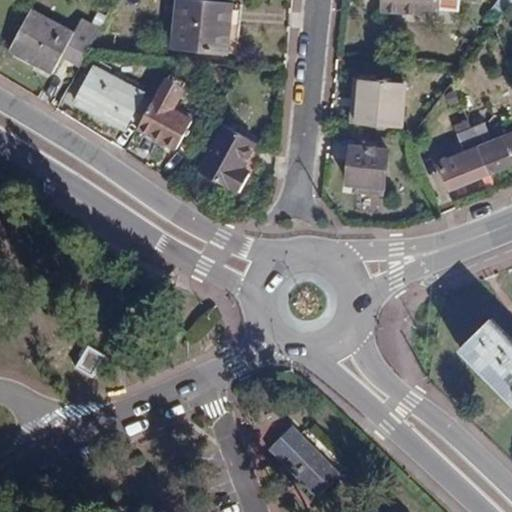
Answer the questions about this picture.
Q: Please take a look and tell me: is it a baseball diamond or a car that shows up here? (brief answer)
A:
car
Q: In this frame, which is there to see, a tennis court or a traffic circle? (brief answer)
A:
traffic circle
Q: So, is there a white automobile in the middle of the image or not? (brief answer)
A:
Yes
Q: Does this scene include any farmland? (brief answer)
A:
No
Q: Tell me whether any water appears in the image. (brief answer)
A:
No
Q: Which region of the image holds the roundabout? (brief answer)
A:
center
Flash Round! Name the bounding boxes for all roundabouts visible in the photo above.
[252,246,362,356]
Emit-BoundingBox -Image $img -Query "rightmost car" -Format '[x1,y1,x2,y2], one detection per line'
[471,205,492,219]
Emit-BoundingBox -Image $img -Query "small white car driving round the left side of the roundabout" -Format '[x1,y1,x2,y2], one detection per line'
[266,273,282,292]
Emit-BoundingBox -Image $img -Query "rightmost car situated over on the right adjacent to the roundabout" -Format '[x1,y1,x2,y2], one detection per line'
[352,294,372,312]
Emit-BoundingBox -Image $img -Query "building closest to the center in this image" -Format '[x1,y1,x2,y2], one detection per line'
[213,134,258,195]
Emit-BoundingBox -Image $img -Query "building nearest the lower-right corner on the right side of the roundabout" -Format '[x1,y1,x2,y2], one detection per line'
[457,318,512,415]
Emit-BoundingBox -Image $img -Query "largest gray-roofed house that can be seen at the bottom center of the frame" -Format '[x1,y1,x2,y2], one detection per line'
[269,426,341,493]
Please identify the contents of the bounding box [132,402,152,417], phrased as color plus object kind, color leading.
white car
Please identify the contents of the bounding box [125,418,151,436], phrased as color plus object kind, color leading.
white vehicle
